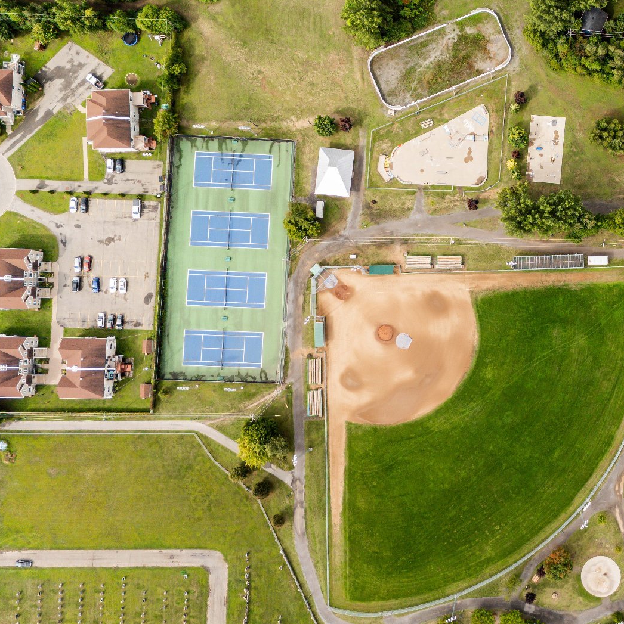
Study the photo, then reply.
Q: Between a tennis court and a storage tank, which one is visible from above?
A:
tennis court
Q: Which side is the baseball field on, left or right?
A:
right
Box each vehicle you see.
[110,277,117,293]
[107,314,115,328]
[120,277,127,293]
[115,313,125,330]
[133,199,141,218]
[116,158,124,173]
[93,278,101,292]
[16,560,32,567]
[84,256,93,272]
[74,256,83,272]
[86,74,105,88]
[70,197,78,212]
[81,198,88,212]
[73,276,81,292]
[97,312,106,328]
[106,158,115,173]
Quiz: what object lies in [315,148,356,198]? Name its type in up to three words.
building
